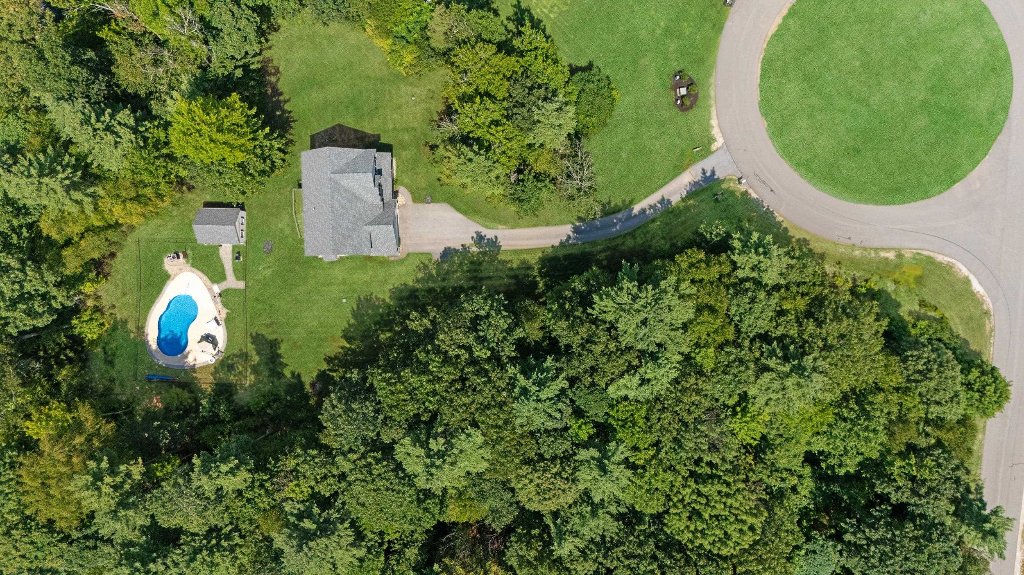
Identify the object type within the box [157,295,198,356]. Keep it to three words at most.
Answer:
swimming pool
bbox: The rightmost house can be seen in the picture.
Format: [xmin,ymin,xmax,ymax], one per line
[301,147,400,263]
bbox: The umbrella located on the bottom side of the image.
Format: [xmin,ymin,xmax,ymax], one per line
[198,338,224,358]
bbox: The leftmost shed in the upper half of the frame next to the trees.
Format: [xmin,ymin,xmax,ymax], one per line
[192,208,246,244]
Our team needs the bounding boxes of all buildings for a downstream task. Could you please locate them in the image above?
[301,147,400,263]
[192,208,246,244]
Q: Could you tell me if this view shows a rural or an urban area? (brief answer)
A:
rural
